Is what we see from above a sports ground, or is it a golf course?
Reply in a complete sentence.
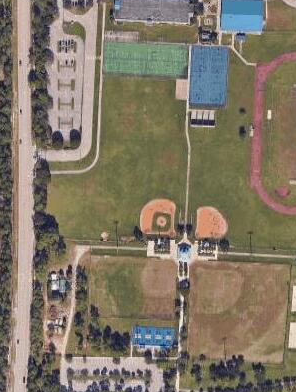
What you see here is a sports ground.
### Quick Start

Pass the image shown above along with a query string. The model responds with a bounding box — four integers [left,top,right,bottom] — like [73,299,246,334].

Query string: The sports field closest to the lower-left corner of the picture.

[90,256,180,321]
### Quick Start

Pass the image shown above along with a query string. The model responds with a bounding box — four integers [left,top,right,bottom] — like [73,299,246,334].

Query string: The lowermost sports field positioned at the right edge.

[187,262,290,363]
